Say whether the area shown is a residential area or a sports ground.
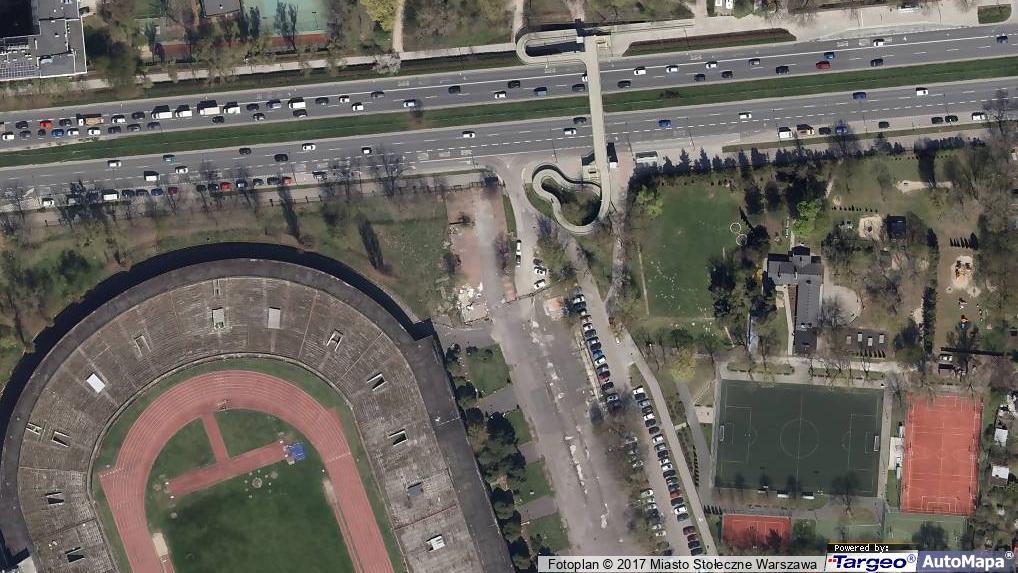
sports ground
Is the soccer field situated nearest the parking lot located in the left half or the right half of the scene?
right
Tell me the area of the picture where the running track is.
bottom left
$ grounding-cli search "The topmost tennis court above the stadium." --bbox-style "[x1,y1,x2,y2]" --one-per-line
[250,0,330,38]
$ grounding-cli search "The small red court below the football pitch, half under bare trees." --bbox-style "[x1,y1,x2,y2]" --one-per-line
[721,513,790,549]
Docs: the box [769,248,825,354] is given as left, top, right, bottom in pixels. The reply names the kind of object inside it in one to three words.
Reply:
building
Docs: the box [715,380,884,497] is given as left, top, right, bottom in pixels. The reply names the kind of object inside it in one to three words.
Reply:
soccer field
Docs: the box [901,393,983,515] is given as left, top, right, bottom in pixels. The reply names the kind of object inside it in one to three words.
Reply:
sports court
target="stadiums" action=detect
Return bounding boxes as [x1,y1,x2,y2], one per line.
[0,259,514,573]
